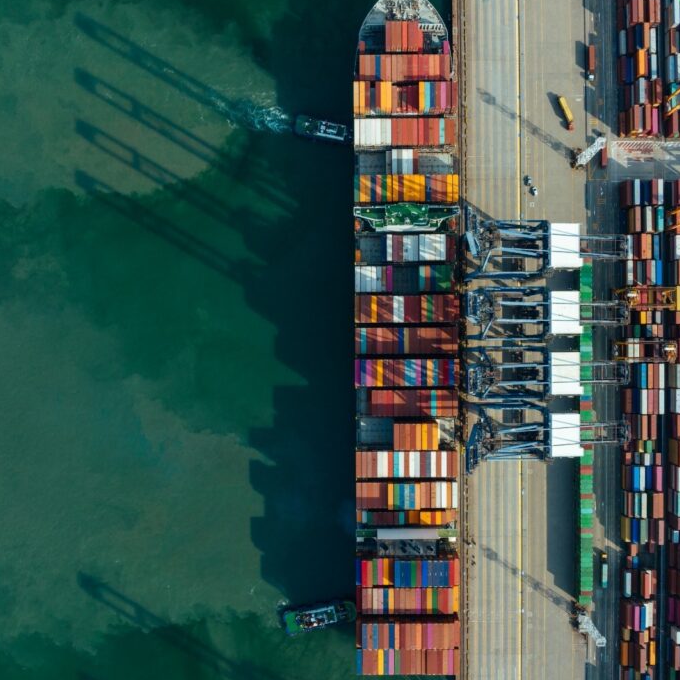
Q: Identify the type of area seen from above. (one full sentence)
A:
What you see here is a port.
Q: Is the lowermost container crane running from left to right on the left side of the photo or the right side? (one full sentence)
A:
You can find the lowermost container crane running from left to right on the right side of the picture.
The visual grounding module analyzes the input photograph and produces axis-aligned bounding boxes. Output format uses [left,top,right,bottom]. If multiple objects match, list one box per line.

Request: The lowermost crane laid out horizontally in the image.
[460,393,632,471]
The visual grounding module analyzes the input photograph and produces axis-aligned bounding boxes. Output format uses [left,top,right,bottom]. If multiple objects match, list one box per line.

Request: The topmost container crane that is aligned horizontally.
[460,206,632,289]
